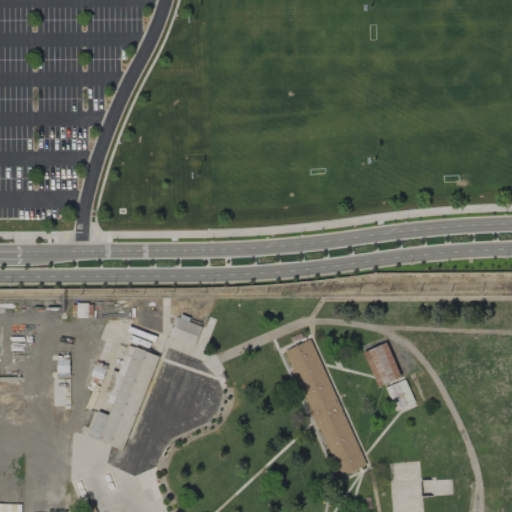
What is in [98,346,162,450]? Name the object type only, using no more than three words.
building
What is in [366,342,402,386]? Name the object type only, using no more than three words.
barn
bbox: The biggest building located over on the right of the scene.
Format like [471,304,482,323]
[287,340,366,476]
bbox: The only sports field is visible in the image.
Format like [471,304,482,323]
[98,0,512,231]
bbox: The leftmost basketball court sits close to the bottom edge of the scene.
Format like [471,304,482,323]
[390,462,424,512]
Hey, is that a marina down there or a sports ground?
sports ground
